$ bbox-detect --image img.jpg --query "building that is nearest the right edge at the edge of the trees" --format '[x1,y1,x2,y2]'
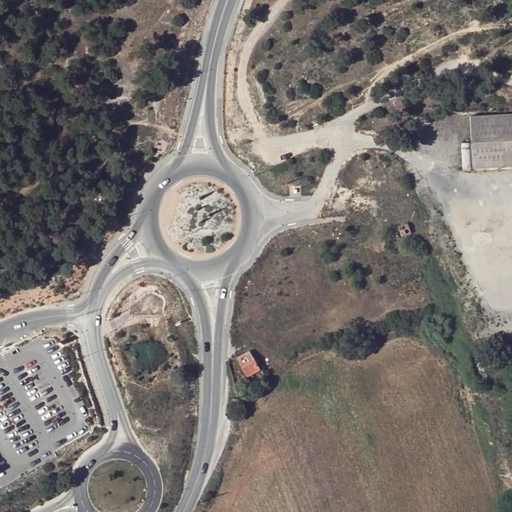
[470,114,512,170]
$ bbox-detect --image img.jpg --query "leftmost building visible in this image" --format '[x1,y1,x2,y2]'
[238,351,260,378]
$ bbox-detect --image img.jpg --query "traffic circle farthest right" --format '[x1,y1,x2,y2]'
[143,160,257,274]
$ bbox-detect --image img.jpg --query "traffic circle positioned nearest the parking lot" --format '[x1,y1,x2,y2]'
[72,443,162,512]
